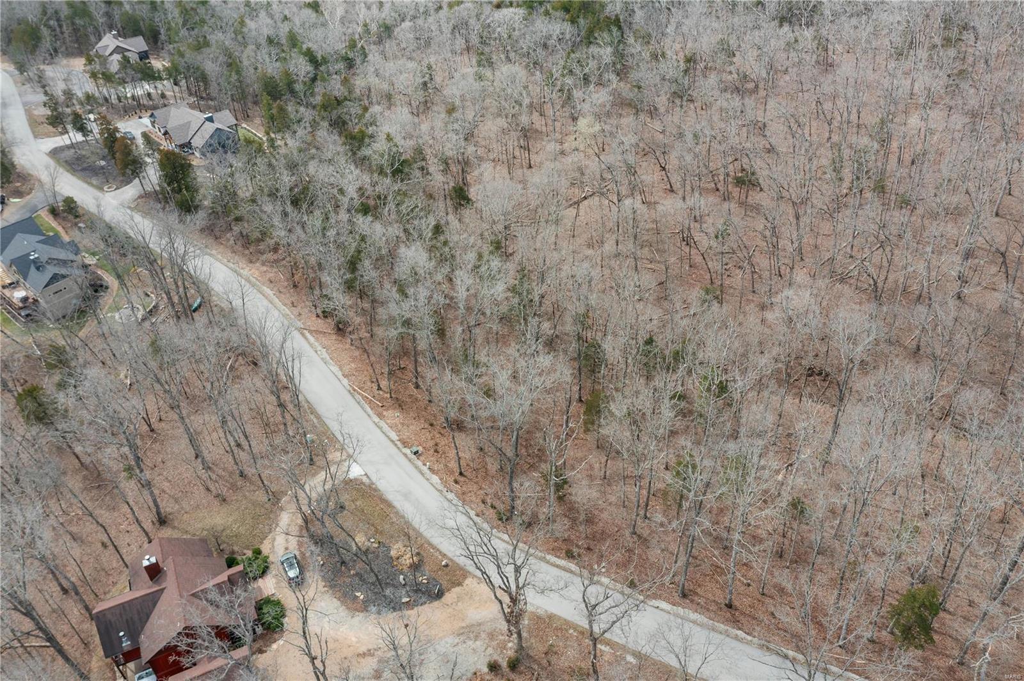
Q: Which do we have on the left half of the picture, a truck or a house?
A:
house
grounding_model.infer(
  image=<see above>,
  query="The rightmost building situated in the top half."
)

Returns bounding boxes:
[147,101,245,169]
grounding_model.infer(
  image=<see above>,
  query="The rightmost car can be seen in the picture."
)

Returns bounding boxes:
[277,550,307,591]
